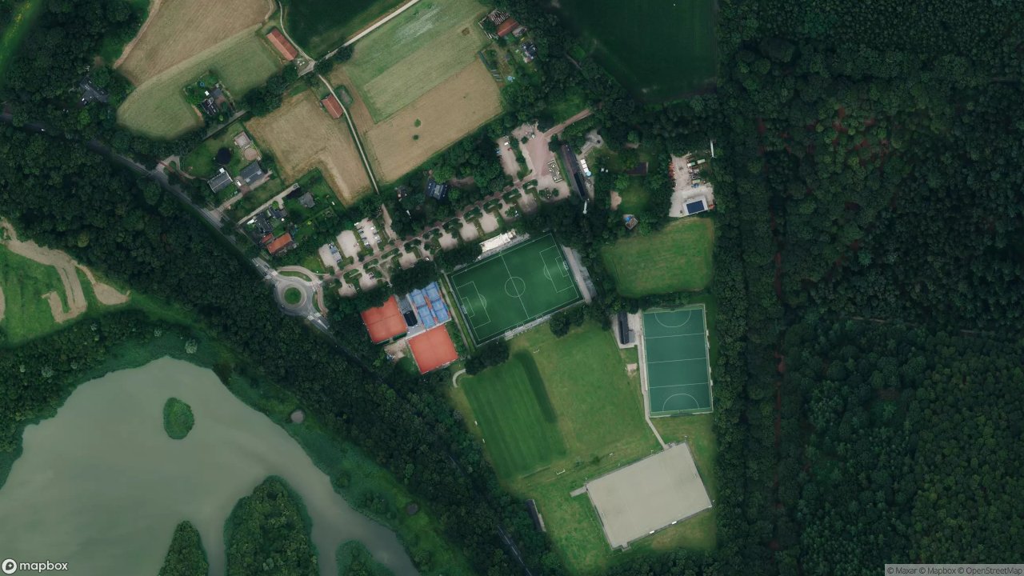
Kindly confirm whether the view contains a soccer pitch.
Yes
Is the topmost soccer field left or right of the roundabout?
right of it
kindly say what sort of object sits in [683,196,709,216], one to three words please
building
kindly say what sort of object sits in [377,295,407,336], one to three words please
tennis court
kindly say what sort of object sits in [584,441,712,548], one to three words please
sports field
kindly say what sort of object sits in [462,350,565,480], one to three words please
sports field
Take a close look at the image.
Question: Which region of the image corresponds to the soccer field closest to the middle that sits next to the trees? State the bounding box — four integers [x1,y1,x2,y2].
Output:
[443,228,586,348]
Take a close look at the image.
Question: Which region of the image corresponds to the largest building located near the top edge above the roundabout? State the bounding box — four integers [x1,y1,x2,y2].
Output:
[267,28,298,61]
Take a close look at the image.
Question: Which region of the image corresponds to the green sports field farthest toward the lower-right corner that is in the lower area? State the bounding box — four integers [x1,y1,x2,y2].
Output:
[641,305,713,417]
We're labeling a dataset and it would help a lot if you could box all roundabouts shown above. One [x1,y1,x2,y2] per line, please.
[253,253,336,338]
